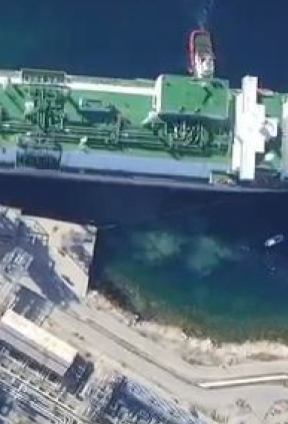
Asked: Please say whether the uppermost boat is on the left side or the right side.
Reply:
right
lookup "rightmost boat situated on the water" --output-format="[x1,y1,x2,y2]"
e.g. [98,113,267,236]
[266,233,287,246]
